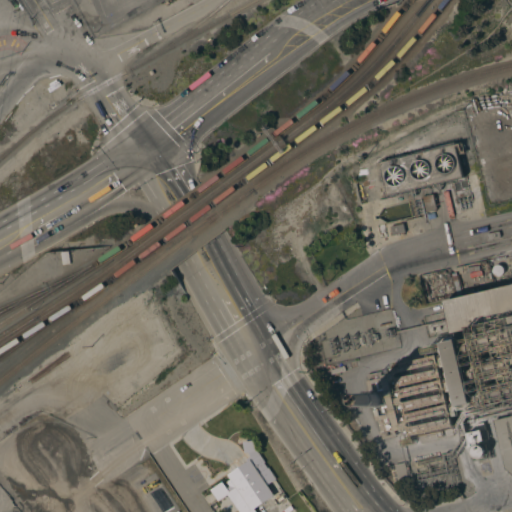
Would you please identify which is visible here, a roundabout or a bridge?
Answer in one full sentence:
This aerial view contains a bridge.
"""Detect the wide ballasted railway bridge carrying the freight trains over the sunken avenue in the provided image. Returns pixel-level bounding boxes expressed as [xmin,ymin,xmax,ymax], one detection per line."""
[154,186,245,267]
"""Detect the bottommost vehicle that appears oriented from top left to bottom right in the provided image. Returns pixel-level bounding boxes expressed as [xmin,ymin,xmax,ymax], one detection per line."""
[334,451,363,490]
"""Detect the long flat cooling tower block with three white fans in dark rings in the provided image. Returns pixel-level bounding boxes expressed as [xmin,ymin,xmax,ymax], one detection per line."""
[381,141,468,198]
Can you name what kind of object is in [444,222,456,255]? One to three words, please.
vehicle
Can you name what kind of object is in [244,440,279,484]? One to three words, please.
building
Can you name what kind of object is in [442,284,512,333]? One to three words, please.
building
